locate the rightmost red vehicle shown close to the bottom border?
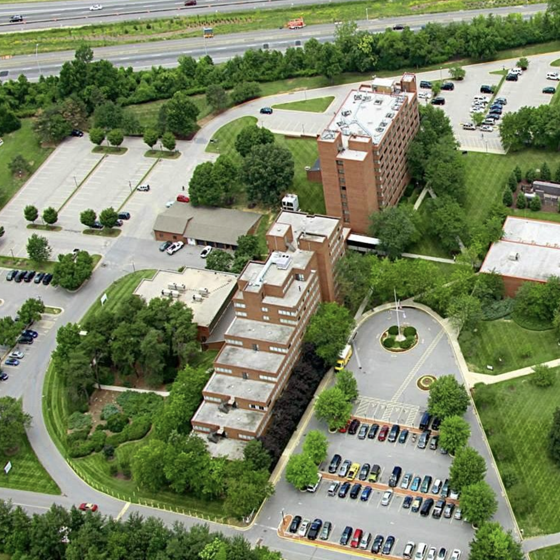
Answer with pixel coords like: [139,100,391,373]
[349,528,365,549]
